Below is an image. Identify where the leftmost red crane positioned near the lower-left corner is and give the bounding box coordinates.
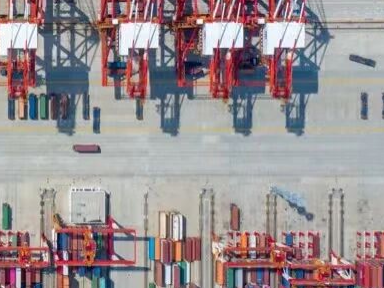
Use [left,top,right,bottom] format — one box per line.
[0,231,51,266]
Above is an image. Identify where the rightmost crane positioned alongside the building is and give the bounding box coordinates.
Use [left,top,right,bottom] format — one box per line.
[52,214,141,267]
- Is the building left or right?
left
